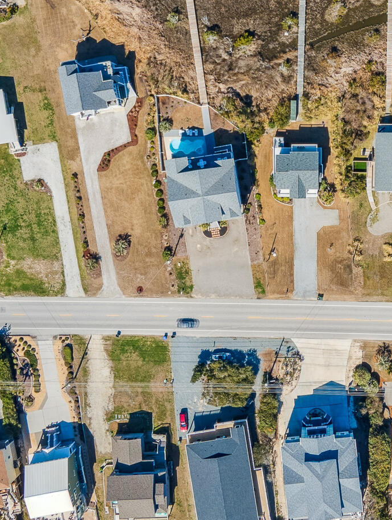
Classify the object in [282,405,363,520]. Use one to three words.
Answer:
house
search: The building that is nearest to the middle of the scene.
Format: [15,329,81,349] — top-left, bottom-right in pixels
[164,145,242,230]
